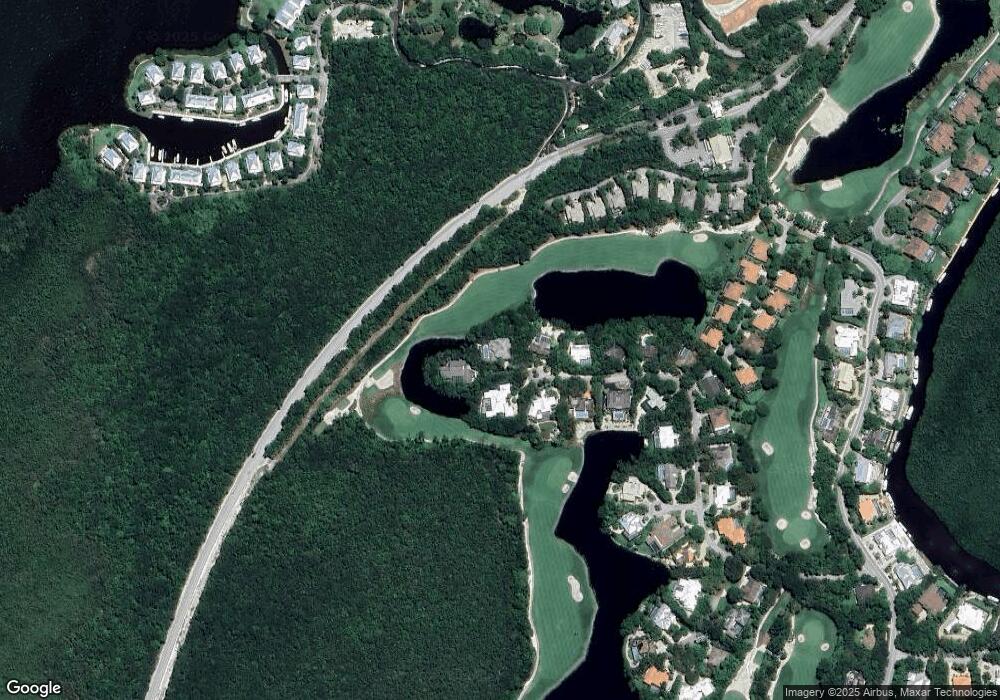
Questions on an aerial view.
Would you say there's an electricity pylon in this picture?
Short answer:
No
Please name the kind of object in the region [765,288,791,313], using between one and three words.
house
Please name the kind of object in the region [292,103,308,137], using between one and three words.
house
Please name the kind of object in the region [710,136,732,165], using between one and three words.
building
